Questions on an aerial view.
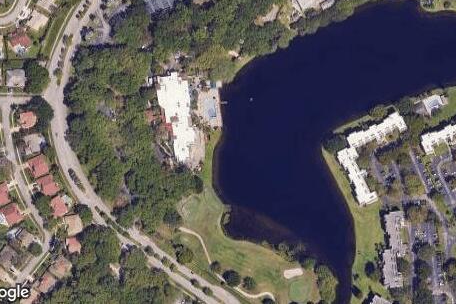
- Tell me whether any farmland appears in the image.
No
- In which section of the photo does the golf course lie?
bottom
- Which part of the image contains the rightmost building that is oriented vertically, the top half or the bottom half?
bottom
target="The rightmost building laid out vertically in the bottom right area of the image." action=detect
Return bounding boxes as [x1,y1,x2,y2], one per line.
[381,210,404,288]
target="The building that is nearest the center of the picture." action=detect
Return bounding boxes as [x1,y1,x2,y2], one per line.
[152,71,194,164]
